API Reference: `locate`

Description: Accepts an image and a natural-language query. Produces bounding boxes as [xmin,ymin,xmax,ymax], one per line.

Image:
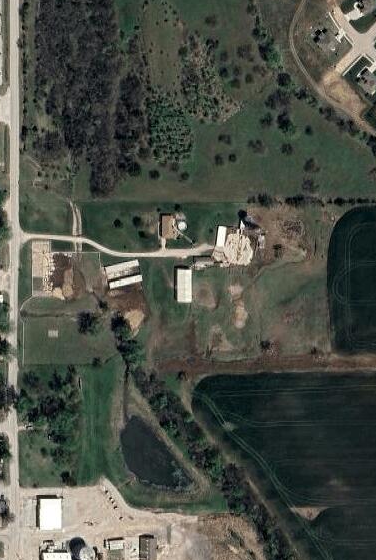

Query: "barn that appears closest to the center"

[178,270,193,302]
